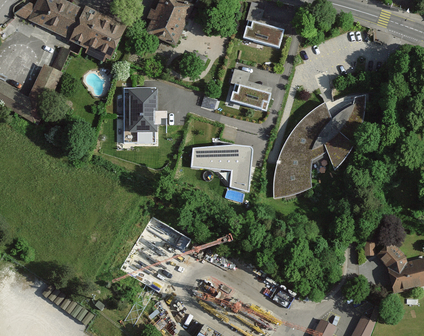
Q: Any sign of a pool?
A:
Yes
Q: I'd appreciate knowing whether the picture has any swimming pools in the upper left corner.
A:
Yes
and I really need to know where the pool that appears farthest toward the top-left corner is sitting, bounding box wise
[82,70,110,99]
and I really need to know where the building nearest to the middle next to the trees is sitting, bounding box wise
[190,144,252,192]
